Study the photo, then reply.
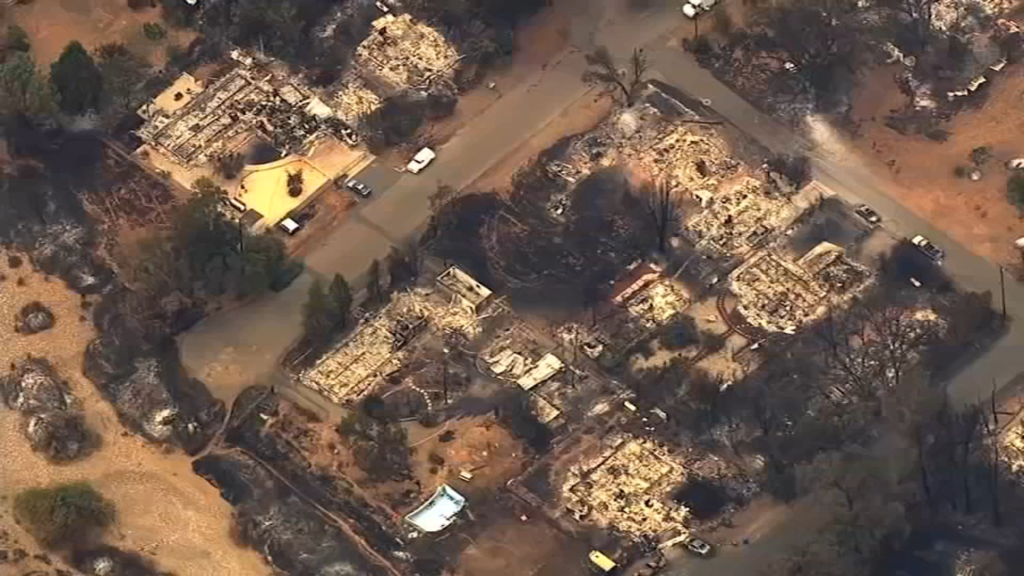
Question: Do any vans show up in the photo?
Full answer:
Yes, the frame does contain a van.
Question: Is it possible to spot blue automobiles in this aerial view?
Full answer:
No, no blue automobile is visible in the view.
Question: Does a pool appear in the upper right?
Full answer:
No, I can find no pool in the upper right.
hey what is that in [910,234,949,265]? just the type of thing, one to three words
truck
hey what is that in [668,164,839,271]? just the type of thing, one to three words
house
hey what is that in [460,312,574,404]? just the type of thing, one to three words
shed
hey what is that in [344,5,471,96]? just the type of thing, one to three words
house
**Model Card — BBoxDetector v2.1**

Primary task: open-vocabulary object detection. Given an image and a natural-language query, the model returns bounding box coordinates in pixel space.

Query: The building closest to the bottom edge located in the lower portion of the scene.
[545,423,709,567]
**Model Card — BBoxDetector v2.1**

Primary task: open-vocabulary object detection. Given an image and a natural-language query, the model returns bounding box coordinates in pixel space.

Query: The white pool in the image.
[401,481,468,534]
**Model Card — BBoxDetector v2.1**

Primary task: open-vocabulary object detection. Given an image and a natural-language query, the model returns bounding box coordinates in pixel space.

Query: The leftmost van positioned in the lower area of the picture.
[583,545,619,575]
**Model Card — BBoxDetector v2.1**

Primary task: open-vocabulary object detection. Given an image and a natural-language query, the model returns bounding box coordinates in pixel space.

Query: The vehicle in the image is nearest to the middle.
[406,148,435,174]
